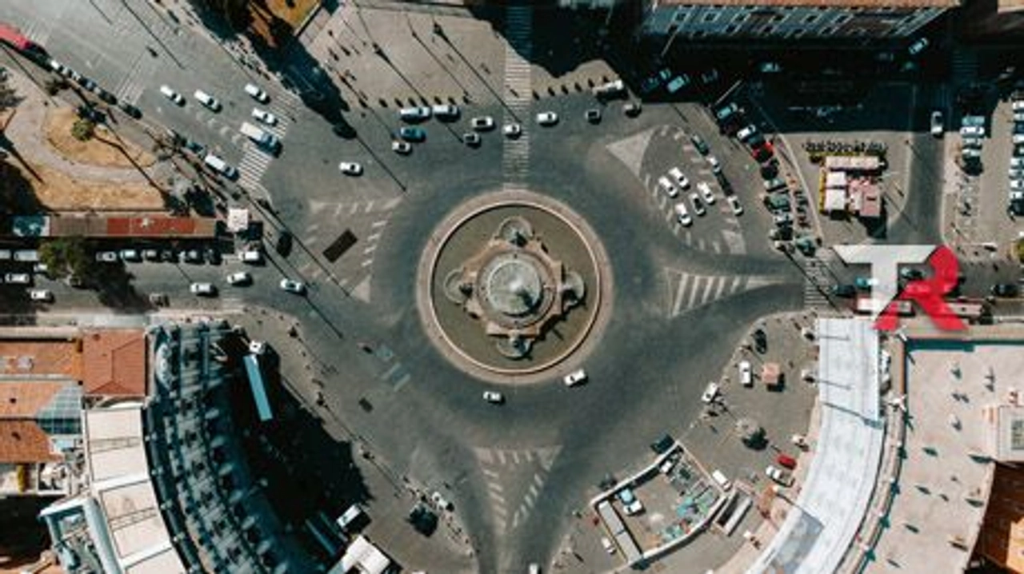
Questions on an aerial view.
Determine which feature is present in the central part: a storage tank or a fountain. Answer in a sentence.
The feature located in the central part is a fountain.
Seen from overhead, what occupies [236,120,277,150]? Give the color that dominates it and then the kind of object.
white truck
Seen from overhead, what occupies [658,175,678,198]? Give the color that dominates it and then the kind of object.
white car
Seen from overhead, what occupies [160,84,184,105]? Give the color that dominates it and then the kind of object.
white car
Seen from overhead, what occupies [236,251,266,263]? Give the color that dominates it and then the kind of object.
white vehicle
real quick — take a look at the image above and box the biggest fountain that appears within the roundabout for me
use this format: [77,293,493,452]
[428,198,604,374]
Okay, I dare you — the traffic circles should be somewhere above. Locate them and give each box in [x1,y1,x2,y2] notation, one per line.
[338,108,694,464]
